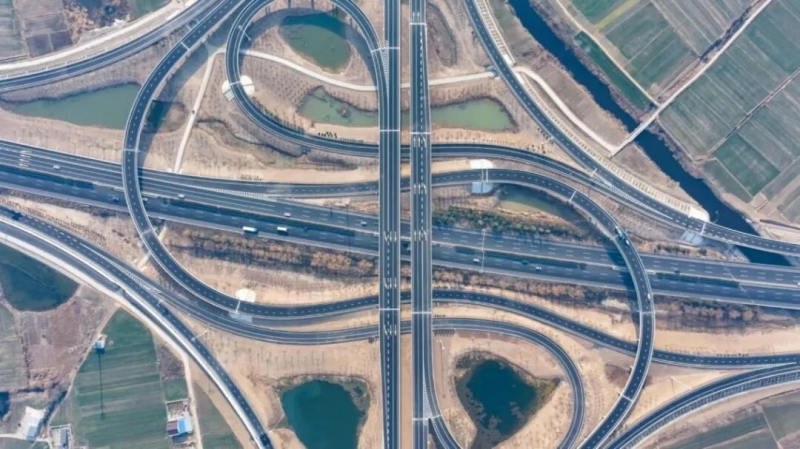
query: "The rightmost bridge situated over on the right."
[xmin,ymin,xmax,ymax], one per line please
[684,201,800,257]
